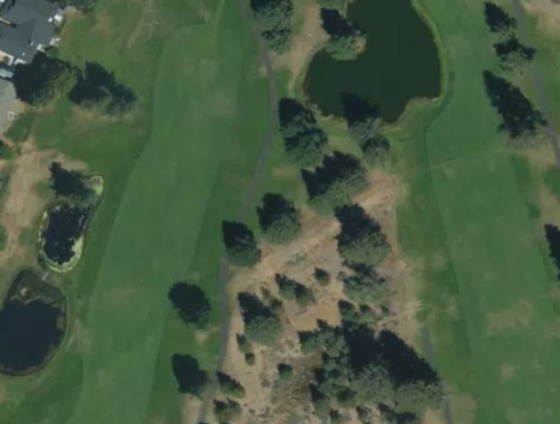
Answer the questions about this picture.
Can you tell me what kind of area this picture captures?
golf course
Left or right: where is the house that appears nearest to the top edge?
left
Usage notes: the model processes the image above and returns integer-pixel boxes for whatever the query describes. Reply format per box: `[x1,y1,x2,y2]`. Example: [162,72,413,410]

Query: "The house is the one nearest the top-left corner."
[0,0,57,62]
